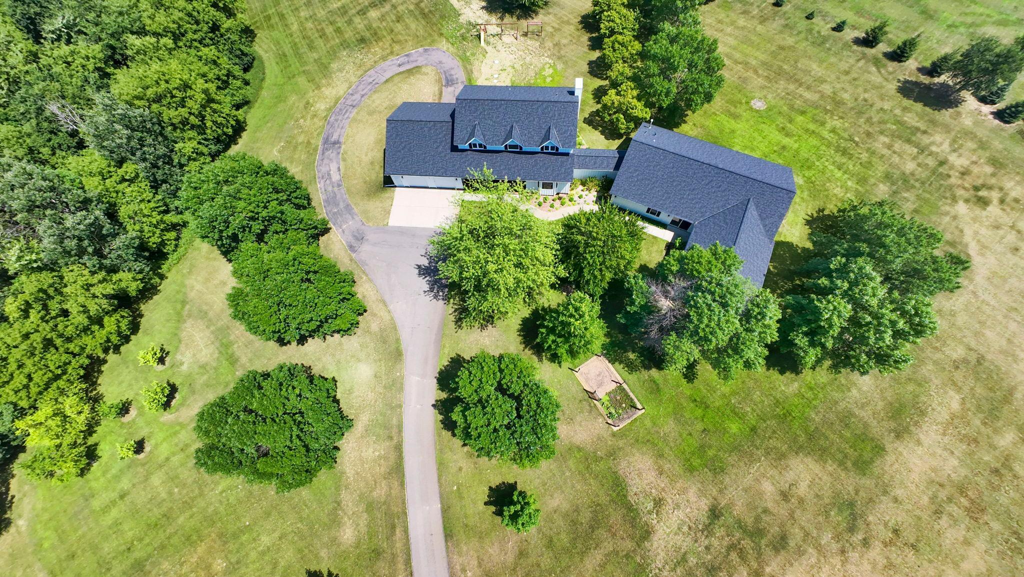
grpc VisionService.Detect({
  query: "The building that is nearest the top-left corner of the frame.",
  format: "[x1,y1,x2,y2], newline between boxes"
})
[382,78,583,196]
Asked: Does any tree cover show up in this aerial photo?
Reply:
Yes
